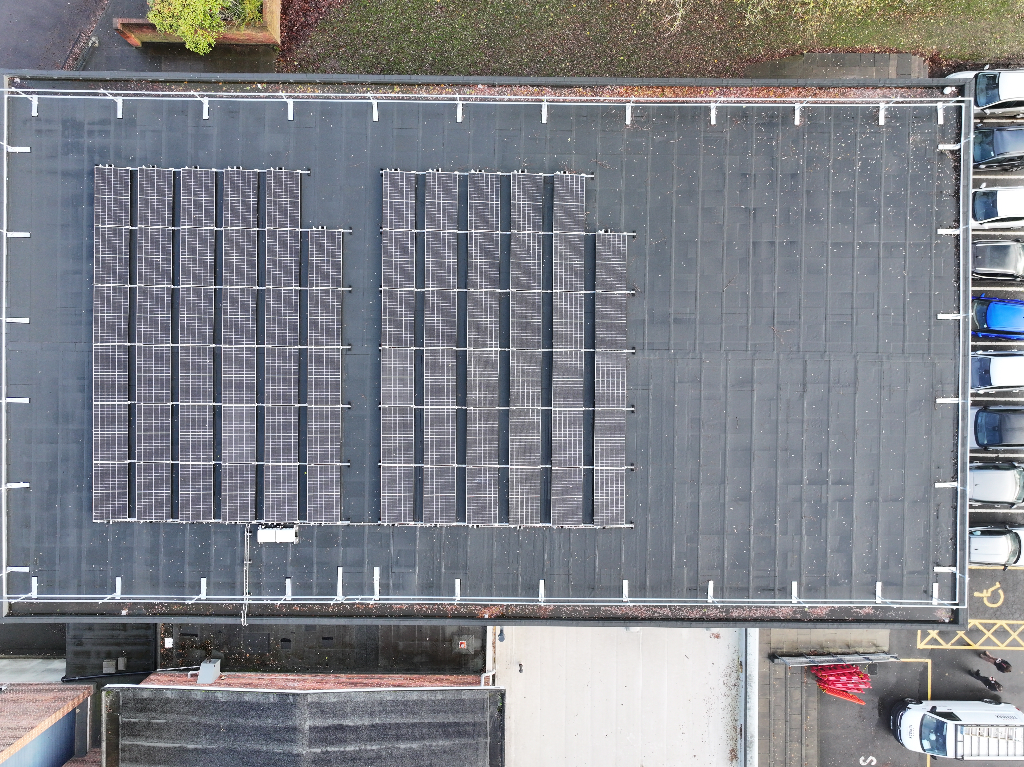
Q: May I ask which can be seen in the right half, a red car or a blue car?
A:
blue car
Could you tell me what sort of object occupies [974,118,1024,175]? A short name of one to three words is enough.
car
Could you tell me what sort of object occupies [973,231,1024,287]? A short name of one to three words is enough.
car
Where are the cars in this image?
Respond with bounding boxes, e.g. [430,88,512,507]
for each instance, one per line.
[973,231,1024,287]
[973,179,1024,234]
[969,522,1024,573]
[971,401,1024,455]
[974,118,1024,175]
[972,288,1024,341]
[971,345,1024,399]
[940,61,1024,121]
[970,458,1024,513]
